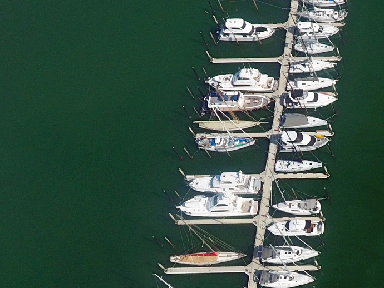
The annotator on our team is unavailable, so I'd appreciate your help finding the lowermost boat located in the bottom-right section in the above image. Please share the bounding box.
[256,245,316,288]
